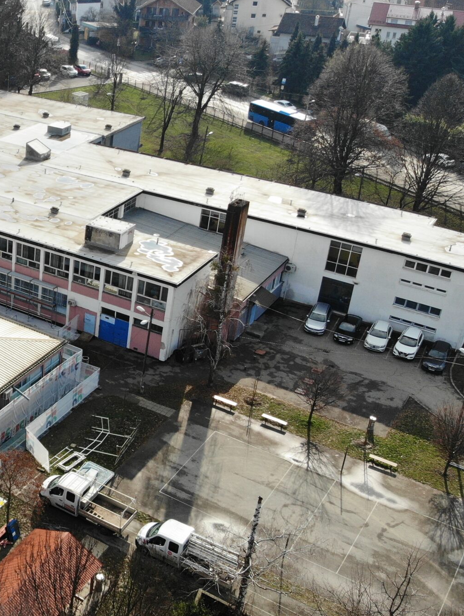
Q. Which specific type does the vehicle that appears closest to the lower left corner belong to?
truck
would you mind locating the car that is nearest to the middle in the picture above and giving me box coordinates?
[307,297,340,330]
